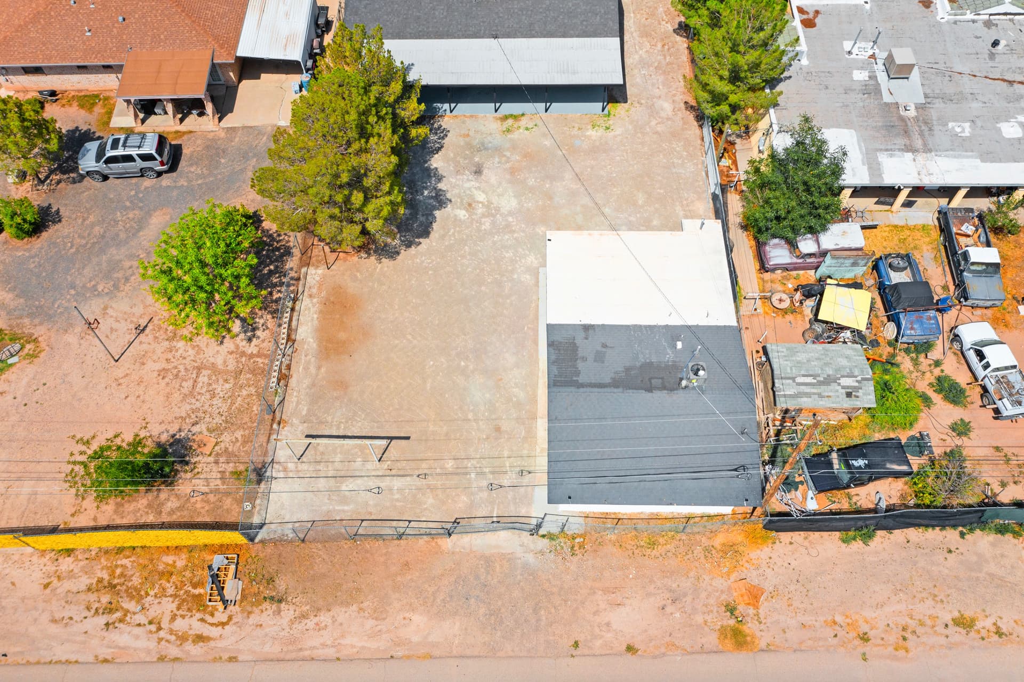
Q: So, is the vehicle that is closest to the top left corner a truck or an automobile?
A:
automobile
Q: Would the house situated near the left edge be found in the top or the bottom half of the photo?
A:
top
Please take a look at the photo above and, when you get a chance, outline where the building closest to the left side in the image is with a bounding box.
[0,0,252,126]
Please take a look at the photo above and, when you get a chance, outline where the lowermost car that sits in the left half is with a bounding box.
[74,123,175,175]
